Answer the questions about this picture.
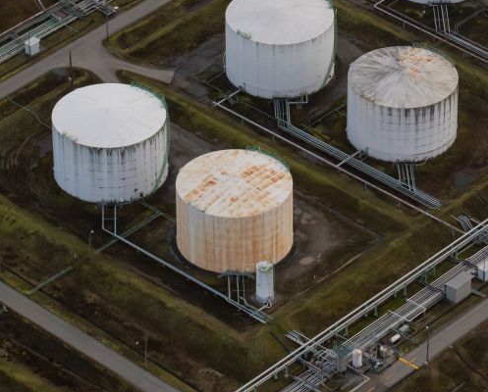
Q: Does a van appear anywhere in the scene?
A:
No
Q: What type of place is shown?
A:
industrial area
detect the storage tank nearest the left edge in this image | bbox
[52,80,174,203]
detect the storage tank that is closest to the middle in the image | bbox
[175,146,293,275]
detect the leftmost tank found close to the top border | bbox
[226,0,340,99]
